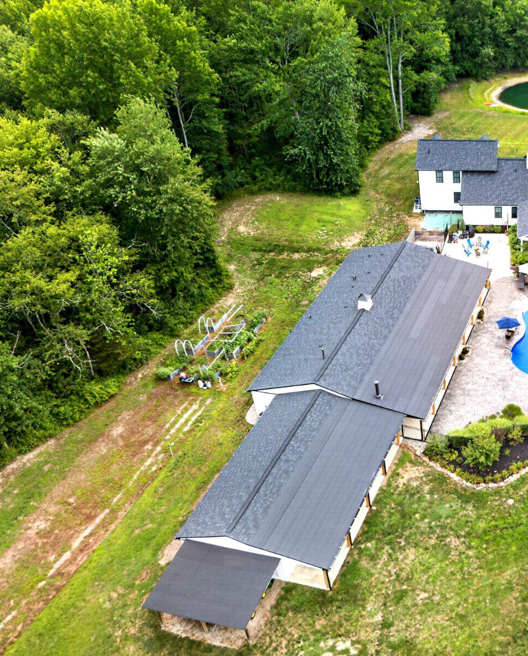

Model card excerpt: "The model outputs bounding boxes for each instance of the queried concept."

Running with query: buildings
[414,132,528,250]
[140,240,493,647]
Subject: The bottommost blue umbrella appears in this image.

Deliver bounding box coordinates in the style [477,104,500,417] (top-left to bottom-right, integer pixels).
[496,315,522,334]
